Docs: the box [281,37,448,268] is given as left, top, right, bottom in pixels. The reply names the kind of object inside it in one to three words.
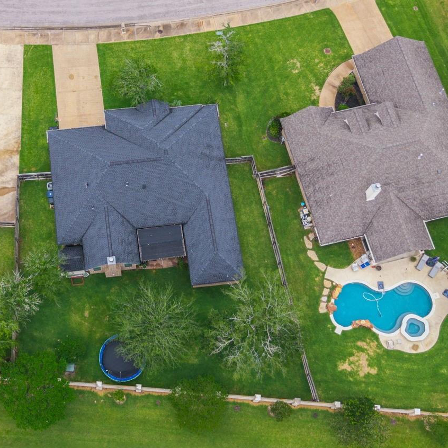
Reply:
house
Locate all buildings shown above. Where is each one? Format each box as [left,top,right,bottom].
[47,100,245,289]
[281,37,448,268]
